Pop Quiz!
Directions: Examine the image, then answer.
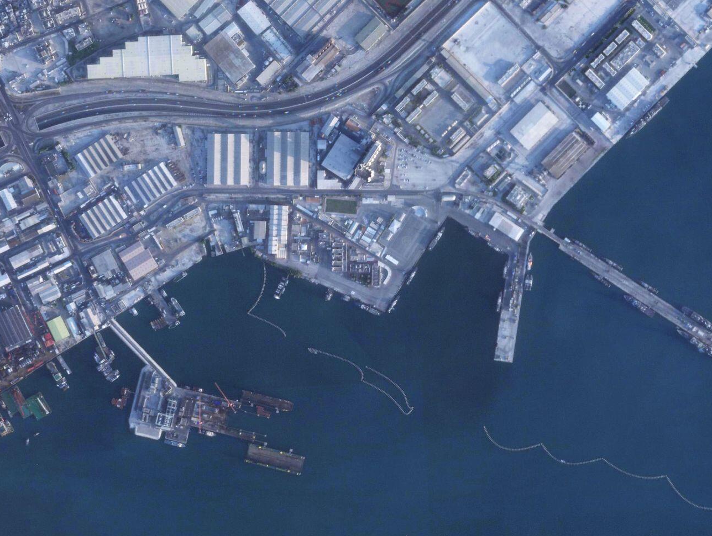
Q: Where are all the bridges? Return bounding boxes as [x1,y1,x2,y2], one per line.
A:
[107,318,179,389]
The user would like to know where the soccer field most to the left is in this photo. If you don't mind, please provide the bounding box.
[324,197,359,216]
